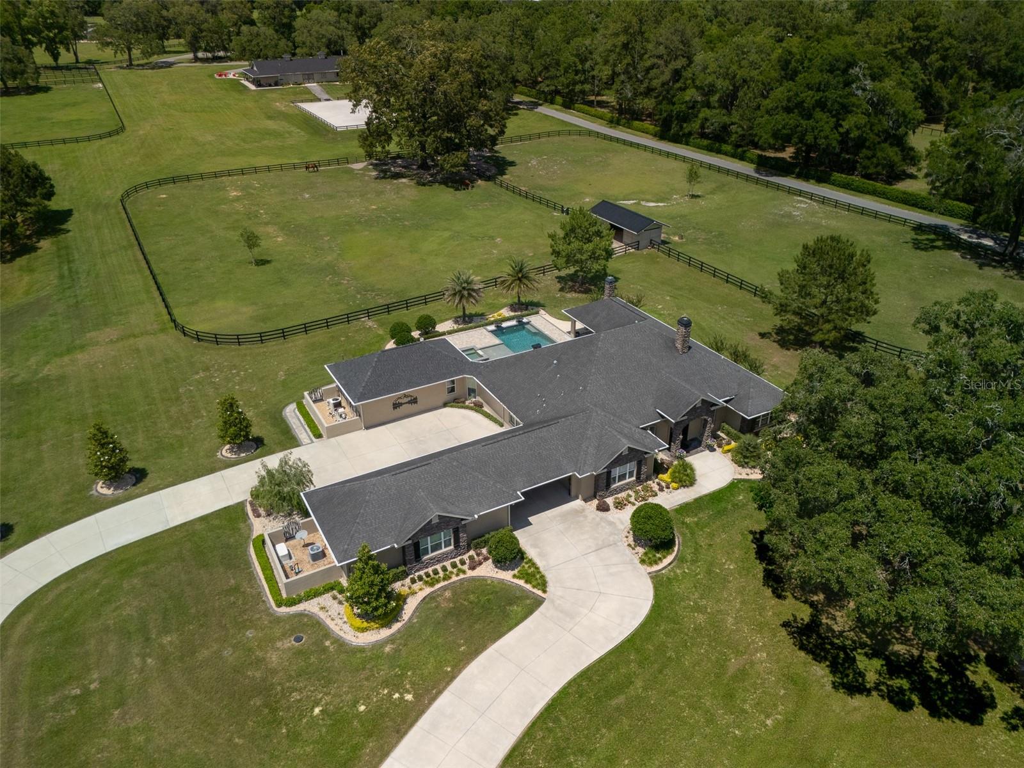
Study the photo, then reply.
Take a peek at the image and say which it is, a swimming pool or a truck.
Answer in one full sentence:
Looking from above, you can make out a swimming pool.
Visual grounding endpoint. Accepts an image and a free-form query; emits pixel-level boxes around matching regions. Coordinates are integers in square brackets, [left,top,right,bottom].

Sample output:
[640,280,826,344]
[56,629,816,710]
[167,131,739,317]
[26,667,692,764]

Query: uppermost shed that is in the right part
[597,204,671,250]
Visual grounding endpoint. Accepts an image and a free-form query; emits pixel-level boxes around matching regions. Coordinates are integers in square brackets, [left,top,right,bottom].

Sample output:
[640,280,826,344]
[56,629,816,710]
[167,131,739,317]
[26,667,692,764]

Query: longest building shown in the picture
[299,274,799,583]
